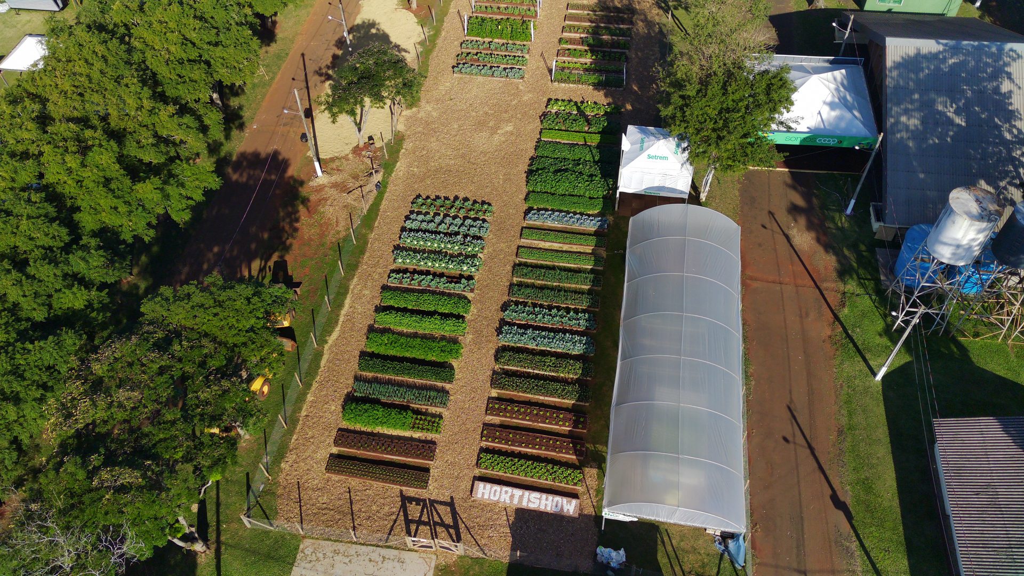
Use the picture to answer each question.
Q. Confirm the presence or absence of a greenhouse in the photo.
Yes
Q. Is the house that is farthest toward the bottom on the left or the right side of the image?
right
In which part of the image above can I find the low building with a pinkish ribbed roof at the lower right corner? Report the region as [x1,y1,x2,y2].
[924,419,1024,576]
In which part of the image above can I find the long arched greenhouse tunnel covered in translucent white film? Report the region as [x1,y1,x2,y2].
[600,202,746,537]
